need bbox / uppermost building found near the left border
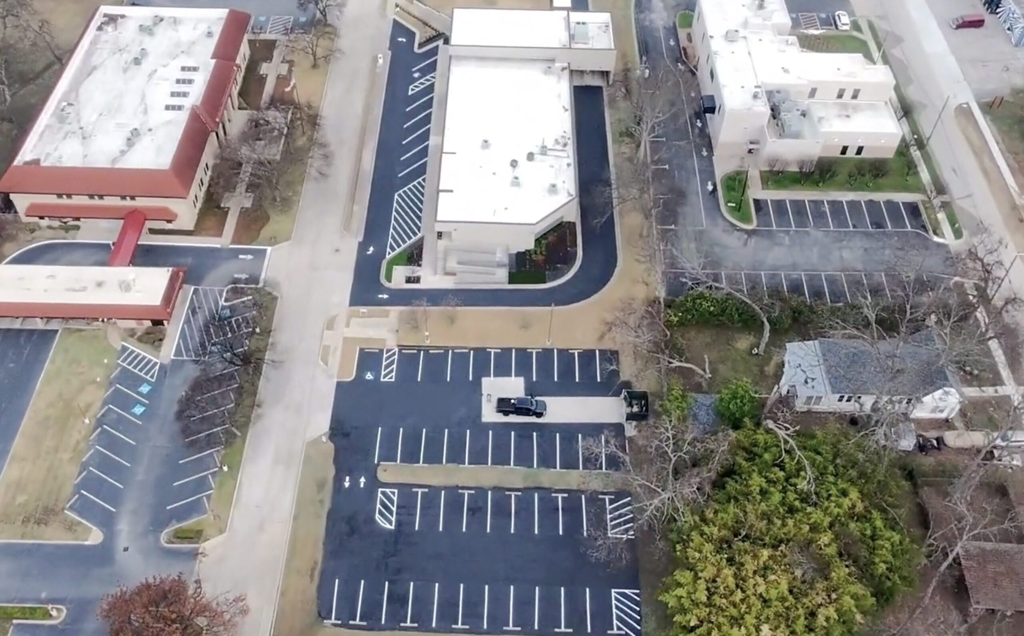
[0,4,249,227]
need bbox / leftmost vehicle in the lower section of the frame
[496,397,547,419]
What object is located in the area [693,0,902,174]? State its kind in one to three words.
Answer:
building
